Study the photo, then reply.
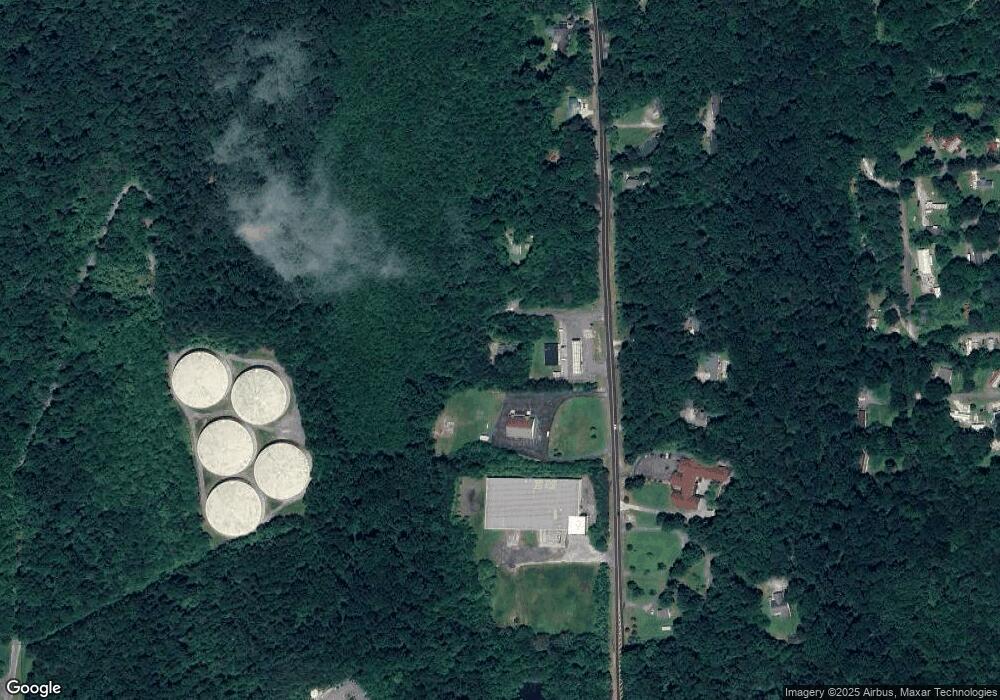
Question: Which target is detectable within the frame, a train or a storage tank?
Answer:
storage tank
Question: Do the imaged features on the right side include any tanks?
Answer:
No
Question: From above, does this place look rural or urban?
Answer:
rural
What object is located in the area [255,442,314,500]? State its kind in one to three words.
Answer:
storage tank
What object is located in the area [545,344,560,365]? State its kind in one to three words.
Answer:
building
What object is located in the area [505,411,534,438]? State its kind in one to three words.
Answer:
building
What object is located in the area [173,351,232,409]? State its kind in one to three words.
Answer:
storage tank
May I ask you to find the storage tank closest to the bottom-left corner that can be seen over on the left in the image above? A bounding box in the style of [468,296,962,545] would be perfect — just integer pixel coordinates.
[206,478,266,537]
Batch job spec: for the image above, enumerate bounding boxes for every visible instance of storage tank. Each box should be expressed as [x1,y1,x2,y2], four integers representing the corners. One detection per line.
[198,418,258,476]
[173,351,232,409]
[206,478,266,537]
[255,442,314,500]
[232,367,292,426]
